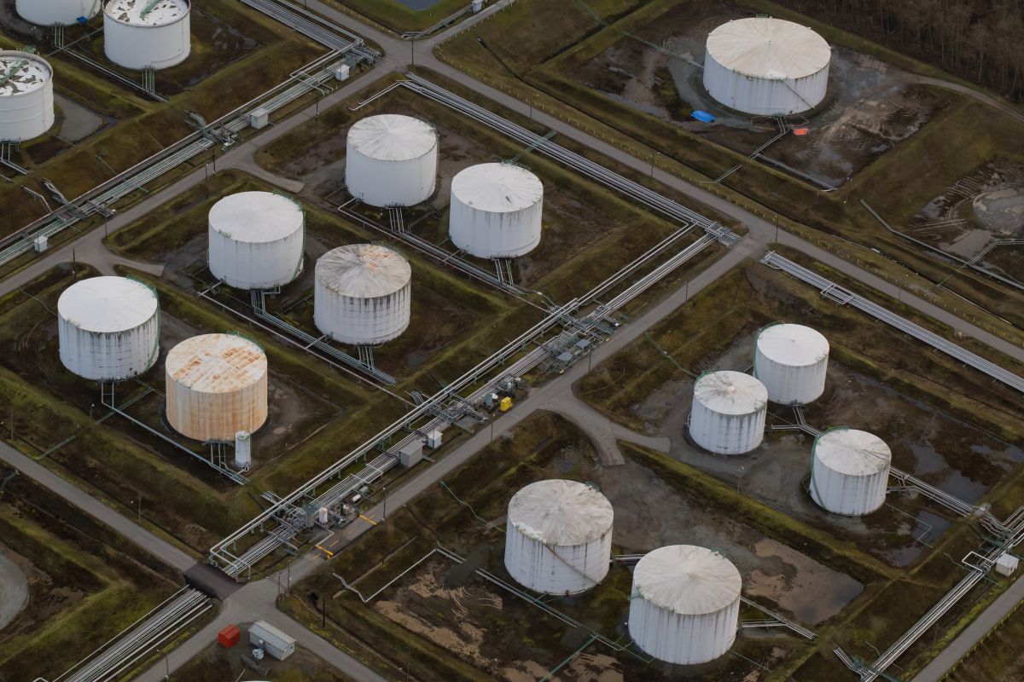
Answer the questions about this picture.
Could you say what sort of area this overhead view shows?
industrial area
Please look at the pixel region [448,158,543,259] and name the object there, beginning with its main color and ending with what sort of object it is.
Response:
white storage tank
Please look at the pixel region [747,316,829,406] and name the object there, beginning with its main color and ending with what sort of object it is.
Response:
white storage tank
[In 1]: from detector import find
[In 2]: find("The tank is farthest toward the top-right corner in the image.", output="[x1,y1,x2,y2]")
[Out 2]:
[702,12,831,116]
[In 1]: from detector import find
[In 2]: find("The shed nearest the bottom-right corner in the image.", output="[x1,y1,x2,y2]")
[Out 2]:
[996,553,1019,577]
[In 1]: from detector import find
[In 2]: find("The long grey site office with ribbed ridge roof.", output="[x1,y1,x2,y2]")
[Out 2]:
[251,623,295,662]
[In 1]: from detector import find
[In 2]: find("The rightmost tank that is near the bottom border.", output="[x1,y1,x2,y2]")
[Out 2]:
[627,543,742,665]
